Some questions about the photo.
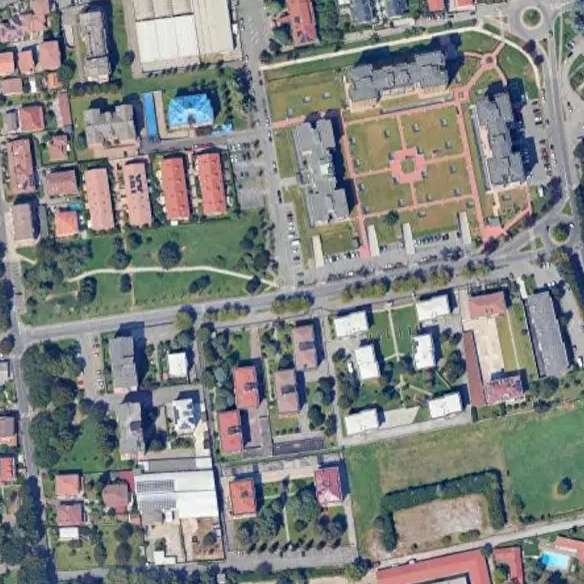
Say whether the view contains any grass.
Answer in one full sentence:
Yes, there's grass in this view.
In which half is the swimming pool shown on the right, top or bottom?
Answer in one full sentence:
You can find the swimming pool shown on the right in the bottom half.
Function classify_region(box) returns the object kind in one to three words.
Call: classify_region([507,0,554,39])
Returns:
roundabout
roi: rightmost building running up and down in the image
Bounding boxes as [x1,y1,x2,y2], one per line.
[526,292,569,380]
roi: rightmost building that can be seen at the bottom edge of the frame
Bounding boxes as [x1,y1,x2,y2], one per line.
[556,537,584,561]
